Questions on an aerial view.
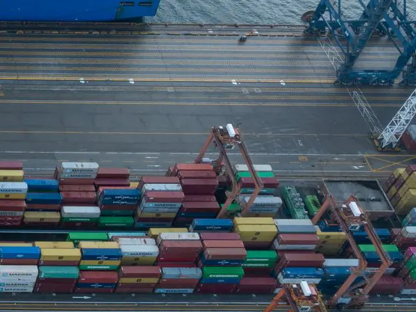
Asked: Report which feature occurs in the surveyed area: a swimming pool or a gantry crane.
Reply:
gantry crane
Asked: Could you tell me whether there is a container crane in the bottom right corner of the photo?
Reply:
Yes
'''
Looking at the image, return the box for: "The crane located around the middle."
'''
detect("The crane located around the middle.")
[194,122,268,220]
